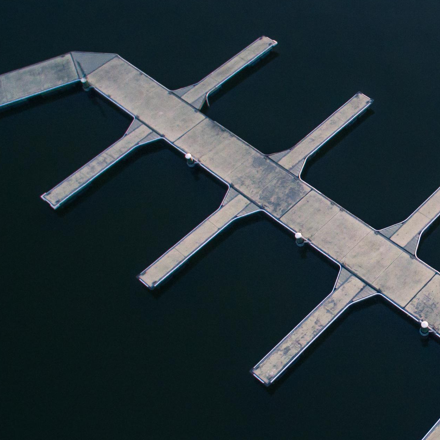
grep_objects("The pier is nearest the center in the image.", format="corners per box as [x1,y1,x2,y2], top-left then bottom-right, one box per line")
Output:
[138,184,265,292]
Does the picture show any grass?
No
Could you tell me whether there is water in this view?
Yes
